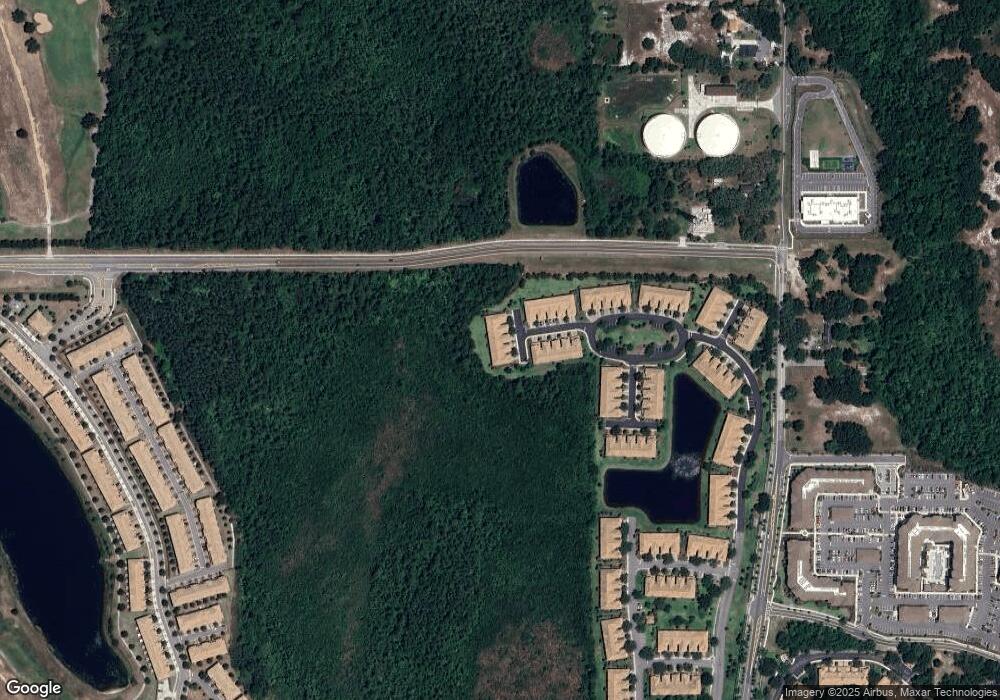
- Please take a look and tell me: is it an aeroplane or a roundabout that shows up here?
roundabout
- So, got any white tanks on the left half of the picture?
No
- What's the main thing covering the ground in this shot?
trees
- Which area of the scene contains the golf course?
top left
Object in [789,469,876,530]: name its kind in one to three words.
building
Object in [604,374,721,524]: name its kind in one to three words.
pond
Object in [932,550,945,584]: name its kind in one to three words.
swimming pool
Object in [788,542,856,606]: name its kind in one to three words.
building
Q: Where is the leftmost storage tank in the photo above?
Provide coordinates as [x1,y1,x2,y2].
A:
[644,114,687,158]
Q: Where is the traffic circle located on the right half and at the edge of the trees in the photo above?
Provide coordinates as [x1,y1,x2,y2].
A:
[587,312,687,363]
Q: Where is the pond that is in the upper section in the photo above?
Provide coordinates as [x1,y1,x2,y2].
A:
[516,152,578,226]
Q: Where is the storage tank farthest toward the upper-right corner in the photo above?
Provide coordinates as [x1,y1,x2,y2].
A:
[697,113,740,157]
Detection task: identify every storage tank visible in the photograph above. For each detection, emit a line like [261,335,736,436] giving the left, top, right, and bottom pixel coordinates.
[697,113,740,157]
[644,114,687,158]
